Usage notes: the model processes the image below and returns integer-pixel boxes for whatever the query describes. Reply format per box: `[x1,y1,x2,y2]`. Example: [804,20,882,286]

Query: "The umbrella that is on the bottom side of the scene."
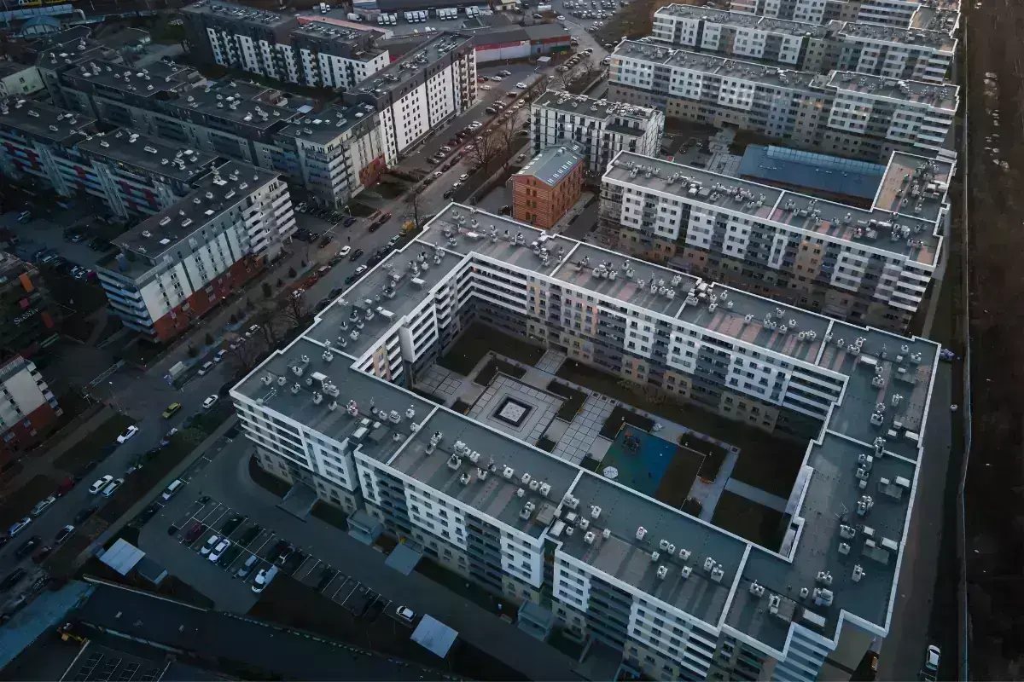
[601,460,623,478]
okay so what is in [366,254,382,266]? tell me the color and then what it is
black vehicle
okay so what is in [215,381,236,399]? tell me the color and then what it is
black car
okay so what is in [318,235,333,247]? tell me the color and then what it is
black vehicle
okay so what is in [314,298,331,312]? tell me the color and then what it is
black car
